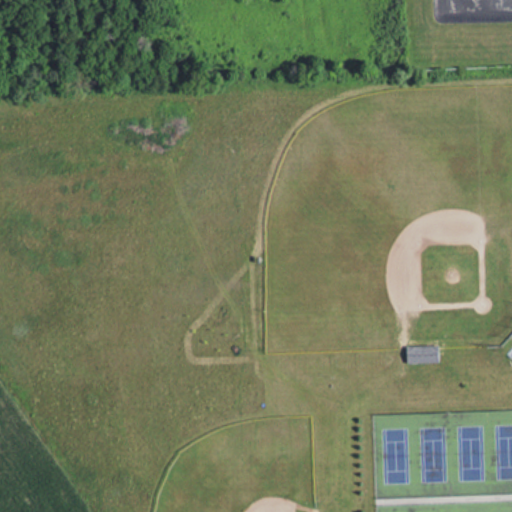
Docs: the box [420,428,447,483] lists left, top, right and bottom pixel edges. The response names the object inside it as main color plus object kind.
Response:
blue tennis court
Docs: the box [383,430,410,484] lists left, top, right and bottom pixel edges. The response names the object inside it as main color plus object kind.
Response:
blue tennis court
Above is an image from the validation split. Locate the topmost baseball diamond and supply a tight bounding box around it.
[265,84,512,354]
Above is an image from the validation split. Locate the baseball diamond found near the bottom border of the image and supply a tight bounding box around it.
[152,415,320,512]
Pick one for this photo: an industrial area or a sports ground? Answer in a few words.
sports ground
